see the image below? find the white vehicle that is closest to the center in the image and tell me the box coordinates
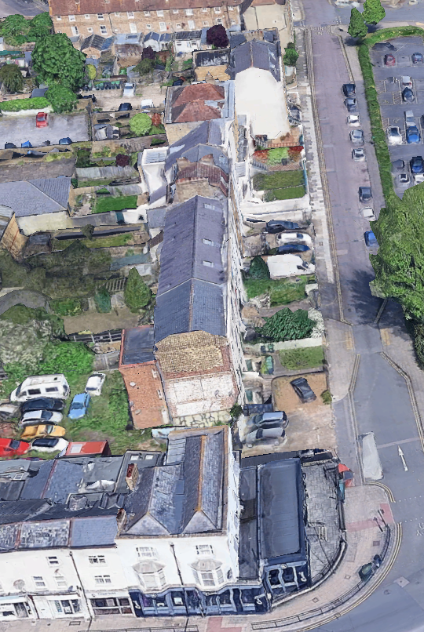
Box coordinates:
[265,255,307,275]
